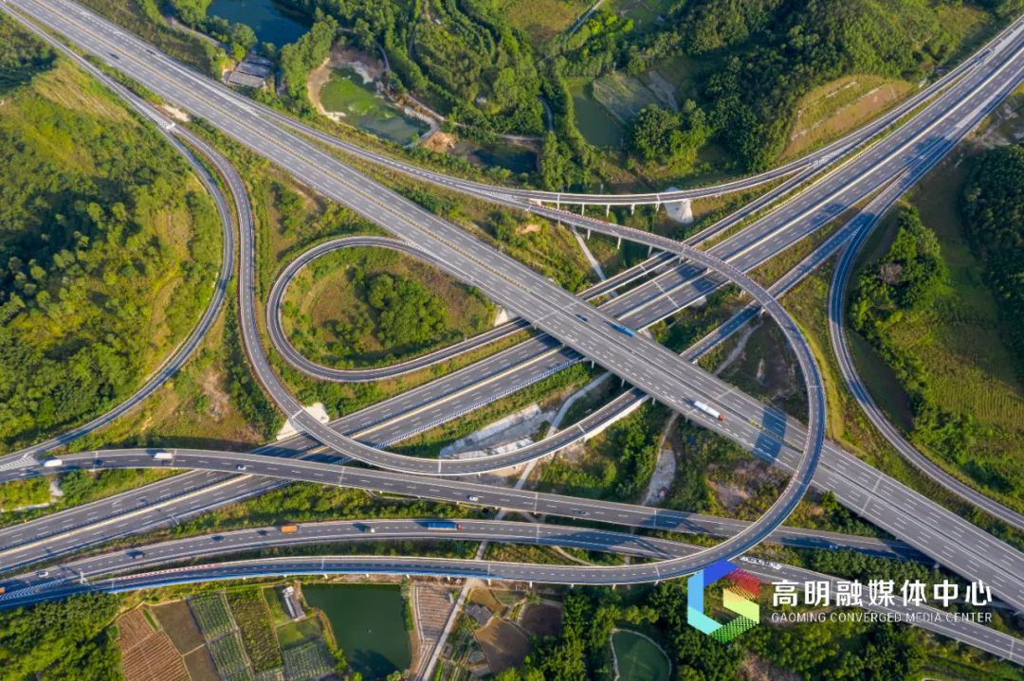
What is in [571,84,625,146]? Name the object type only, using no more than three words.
pond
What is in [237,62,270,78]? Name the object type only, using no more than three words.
shed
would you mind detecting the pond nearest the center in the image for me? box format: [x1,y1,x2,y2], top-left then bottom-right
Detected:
[456,140,538,173]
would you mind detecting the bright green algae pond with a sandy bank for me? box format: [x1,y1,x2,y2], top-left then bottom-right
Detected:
[319,68,425,144]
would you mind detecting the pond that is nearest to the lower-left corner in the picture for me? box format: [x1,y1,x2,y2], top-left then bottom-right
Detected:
[303,584,409,681]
